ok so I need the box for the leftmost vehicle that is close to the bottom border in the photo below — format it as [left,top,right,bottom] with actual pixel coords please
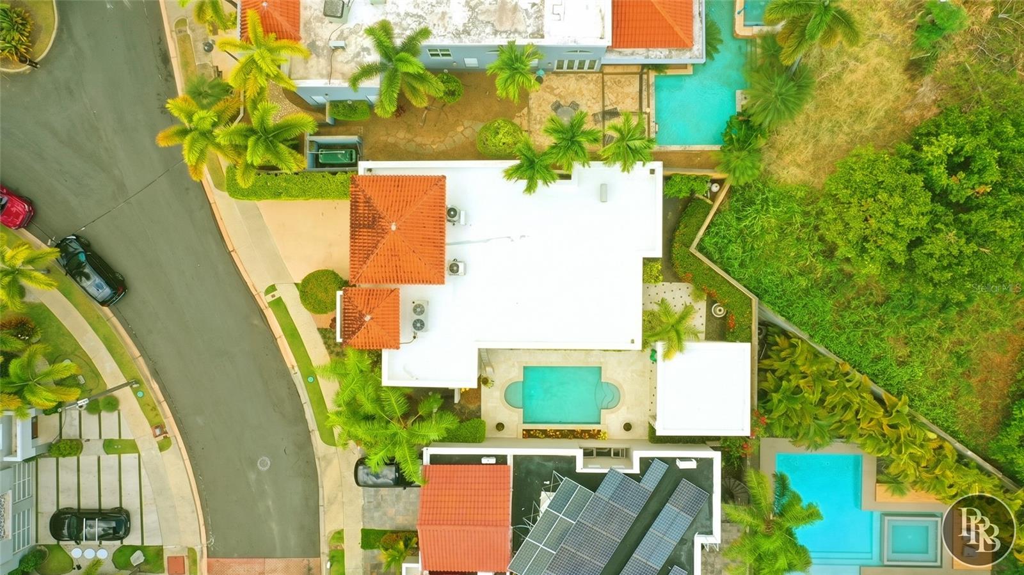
[44,509,127,550]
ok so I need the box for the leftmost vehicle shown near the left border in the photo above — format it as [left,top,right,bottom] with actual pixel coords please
[0,186,32,228]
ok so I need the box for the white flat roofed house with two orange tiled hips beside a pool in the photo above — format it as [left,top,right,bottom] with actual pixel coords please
[337,161,662,403]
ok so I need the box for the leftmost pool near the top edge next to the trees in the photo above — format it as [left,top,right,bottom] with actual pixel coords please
[651,0,753,150]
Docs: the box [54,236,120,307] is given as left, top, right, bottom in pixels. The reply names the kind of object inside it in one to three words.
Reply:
car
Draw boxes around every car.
[44,509,127,550]
[0,186,32,228]
[54,236,120,307]
[350,457,421,497]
